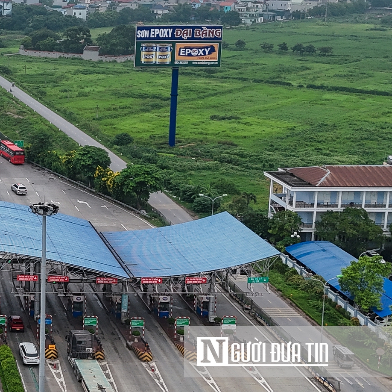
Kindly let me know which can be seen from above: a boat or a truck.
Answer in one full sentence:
I can see a truck in this picture.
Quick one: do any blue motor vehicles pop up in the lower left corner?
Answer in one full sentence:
No, there is no blue motor vehicle in the lower left corner.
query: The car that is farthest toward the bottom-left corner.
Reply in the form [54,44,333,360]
[16,340,37,362]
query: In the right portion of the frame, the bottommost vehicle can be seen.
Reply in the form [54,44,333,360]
[315,331,355,362]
